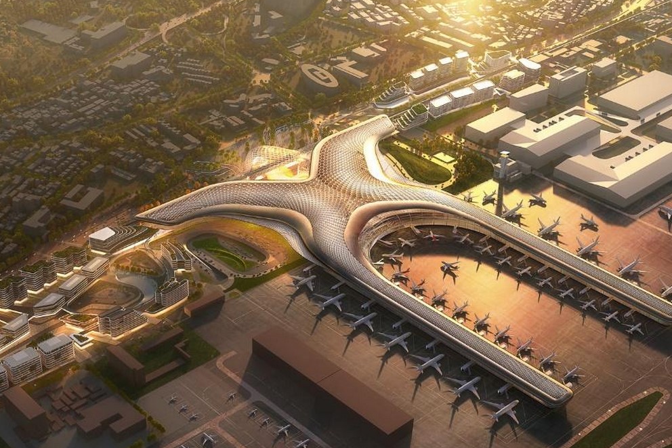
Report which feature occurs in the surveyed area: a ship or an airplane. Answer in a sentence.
I can see an airplane in this picture.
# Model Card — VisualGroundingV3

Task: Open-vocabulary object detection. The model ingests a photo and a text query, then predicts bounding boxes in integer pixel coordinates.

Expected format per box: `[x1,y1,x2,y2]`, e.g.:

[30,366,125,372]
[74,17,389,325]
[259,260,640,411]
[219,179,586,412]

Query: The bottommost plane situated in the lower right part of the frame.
[488,400,517,422]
